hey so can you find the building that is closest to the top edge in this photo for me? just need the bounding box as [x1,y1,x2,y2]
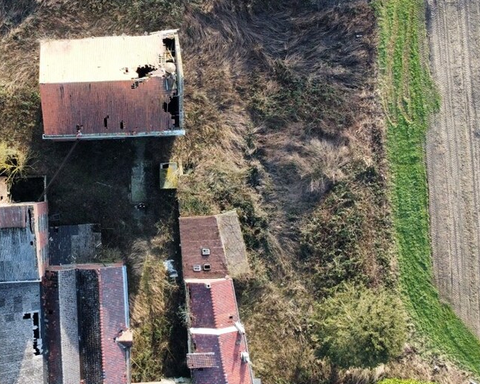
[39,27,187,138]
